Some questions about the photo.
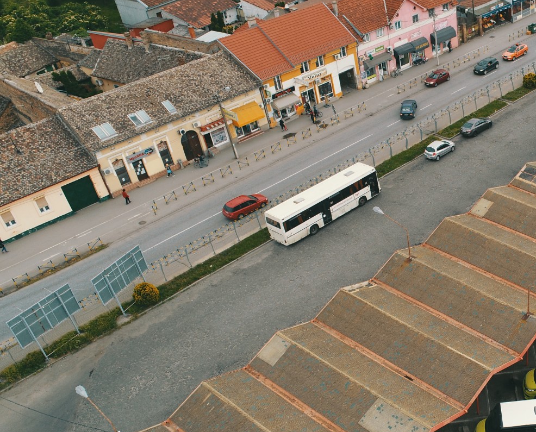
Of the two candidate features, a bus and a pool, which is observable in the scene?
bus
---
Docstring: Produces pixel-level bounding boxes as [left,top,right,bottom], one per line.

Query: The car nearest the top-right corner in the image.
[502,43,529,60]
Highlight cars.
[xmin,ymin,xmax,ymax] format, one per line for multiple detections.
[219,194,268,221]
[396,101,426,120]
[502,43,529,60]
[424,67,451,87]
[422,139,455,160]
[473,55,499,74]
[460,115,493,137]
